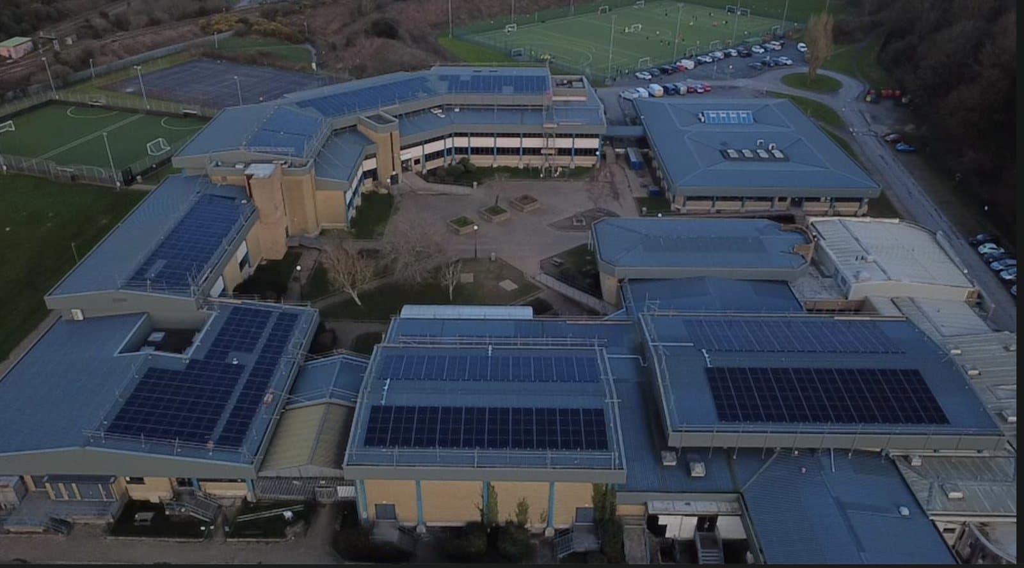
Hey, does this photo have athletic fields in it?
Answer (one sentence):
Yes, there's an athletic field here.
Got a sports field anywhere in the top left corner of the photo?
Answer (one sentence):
Yes, a sports field shows up in the top left corner of the photo.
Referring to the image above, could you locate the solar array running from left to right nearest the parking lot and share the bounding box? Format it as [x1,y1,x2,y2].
[454,73,547,93]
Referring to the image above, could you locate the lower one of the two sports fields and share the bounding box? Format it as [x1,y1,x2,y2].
[0,101,210,181]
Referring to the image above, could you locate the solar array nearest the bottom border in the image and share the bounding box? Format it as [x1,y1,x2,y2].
[361,403,609,455]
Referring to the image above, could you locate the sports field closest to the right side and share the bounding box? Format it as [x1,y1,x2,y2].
[463,0,803,78]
